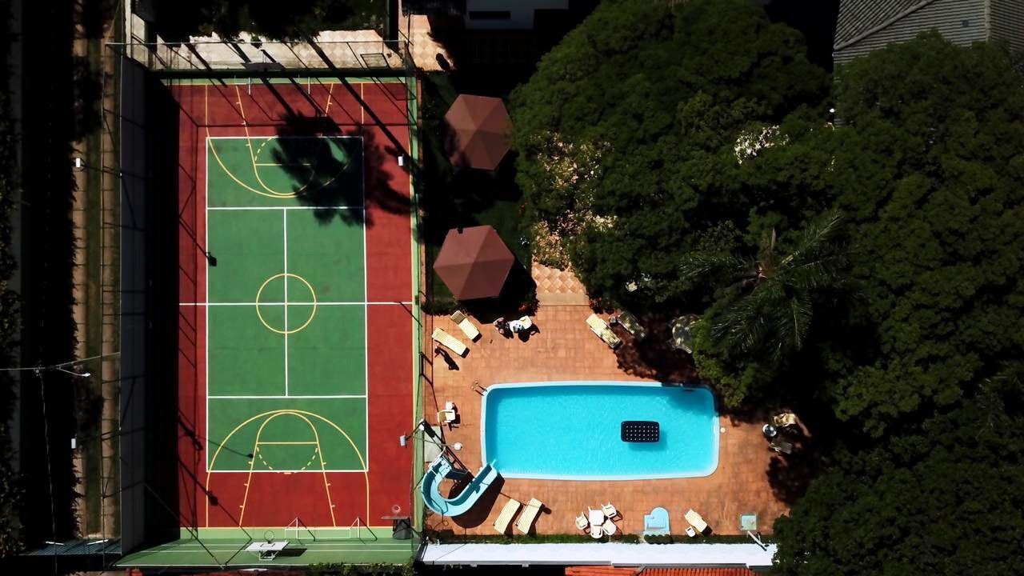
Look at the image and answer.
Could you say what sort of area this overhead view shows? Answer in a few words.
sports ground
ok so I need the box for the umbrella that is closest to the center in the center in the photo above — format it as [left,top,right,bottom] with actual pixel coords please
[433,226,516,300]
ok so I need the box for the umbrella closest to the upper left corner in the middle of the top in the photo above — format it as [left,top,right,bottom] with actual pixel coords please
[439,100,518,171]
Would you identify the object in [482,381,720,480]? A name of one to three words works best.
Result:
swimming pool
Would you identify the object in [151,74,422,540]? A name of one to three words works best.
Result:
sports court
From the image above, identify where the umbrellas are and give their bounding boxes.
[433,226,516,300]
[439,100,518,171]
